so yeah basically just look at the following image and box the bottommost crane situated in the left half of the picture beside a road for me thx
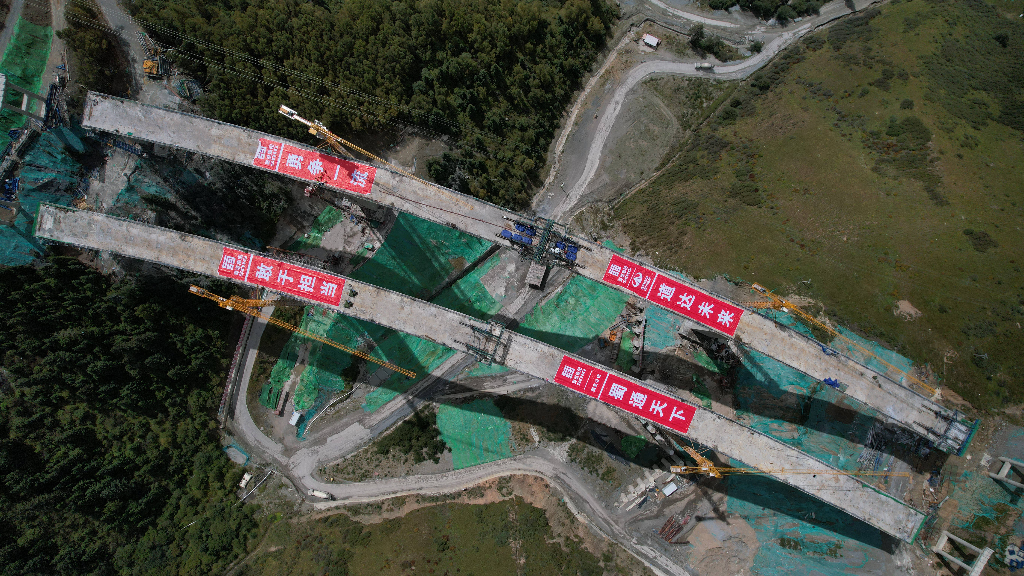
[189,280,418,378]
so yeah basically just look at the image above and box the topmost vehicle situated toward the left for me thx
[273,391,286,415]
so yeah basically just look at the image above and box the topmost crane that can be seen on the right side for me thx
[731,283,936,396]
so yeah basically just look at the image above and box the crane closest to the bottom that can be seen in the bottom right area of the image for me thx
[650,422,910,479]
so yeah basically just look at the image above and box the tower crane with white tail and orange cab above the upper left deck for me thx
[276,104,475,212]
